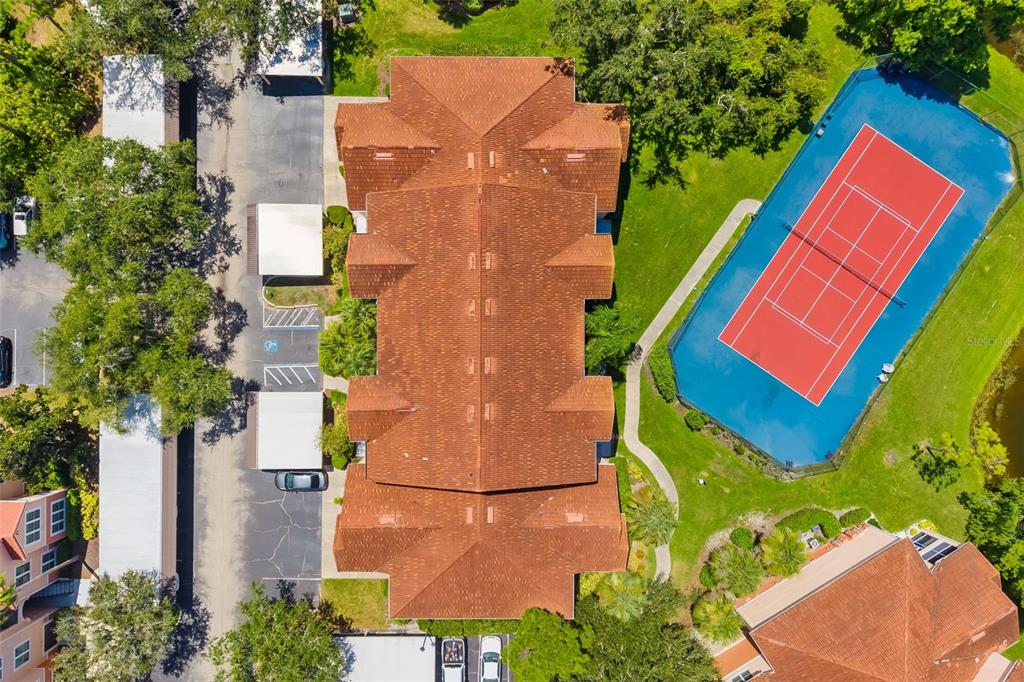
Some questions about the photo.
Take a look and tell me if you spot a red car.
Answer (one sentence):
No, no red car is visible in the view.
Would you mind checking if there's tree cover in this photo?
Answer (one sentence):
Yes, some tree cover is visible.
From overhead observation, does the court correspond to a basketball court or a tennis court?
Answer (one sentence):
It looks like the court is a tennis court.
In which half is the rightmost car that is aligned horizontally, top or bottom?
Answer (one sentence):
Seen from above, the rightmost car that is aligned horizontally lies in the bottom half of the view.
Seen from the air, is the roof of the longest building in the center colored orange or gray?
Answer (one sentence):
In this view, the roof of the longest building in the center is orange.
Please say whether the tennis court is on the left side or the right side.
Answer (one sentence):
You can find the tennis court on the right side of the picture.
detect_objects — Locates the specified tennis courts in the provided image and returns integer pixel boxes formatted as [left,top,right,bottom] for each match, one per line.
[670,65,1013,467]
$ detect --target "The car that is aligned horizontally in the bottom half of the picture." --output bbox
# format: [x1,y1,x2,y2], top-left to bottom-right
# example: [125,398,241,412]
[274,471,327,494]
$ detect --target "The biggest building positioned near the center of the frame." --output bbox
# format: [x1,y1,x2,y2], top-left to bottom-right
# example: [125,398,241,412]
[335,56,626,618]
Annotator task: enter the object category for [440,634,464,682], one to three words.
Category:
truck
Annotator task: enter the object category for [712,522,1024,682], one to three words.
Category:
building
